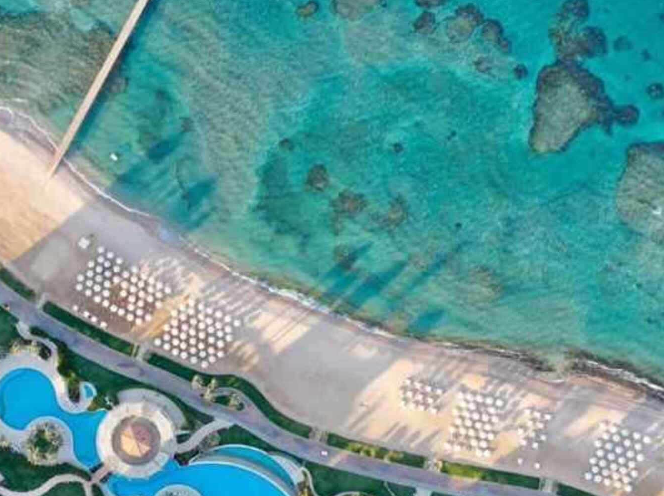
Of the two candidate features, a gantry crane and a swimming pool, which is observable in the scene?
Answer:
swimming pool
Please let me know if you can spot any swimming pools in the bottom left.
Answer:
Yes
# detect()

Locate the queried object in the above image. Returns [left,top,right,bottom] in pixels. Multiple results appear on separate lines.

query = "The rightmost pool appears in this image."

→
[204,444,298,493]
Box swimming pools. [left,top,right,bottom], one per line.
[83,382,95,400]
[109,459,284,496]
[204,444,298,493]
[0,366,108,468]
